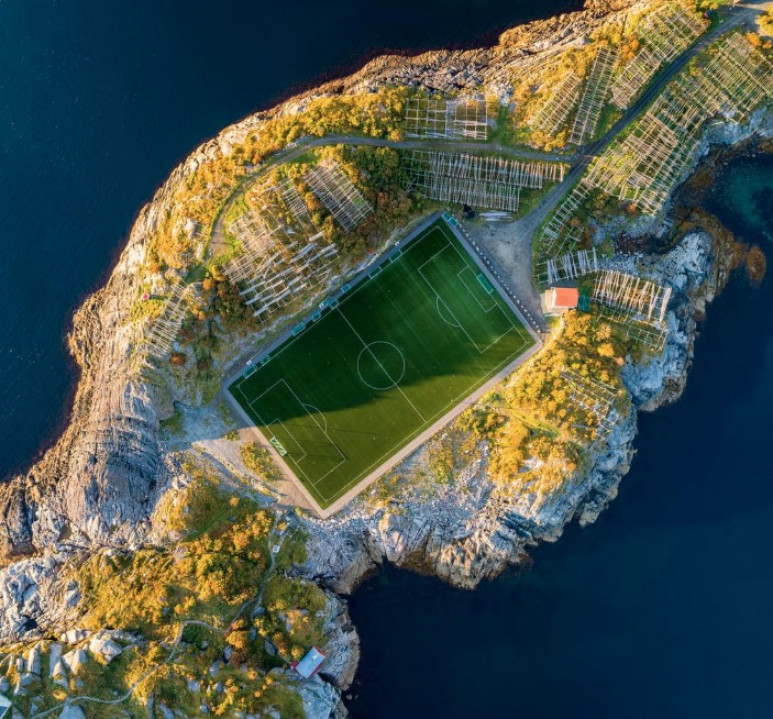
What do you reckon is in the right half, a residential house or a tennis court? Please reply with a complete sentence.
There is a residential house in the right half.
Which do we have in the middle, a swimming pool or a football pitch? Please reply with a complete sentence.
You can see a football pitch in the middle.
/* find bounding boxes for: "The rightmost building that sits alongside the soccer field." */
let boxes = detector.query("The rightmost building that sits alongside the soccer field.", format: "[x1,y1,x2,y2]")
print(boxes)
[539,289,581,313]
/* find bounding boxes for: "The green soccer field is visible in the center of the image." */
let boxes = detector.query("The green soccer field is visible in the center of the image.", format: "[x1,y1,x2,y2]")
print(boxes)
[219,210,546,517]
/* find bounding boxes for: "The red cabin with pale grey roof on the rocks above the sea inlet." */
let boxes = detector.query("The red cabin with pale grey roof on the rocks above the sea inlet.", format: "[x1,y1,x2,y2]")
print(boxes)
[292,642,328,678]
